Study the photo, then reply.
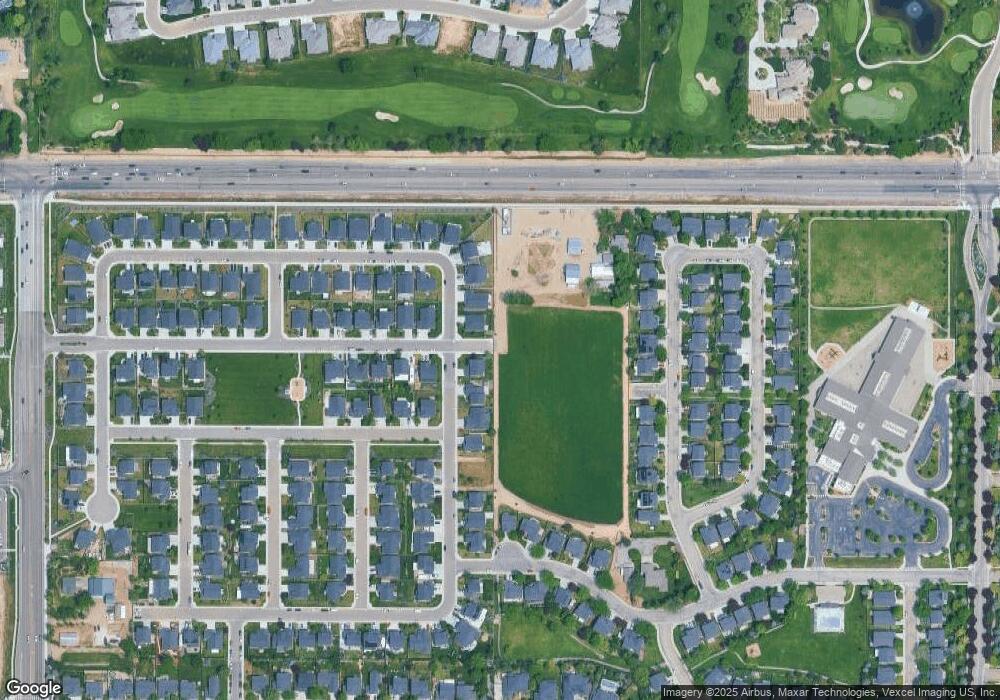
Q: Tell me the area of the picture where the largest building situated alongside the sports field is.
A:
right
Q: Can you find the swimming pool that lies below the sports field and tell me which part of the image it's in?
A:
bottom right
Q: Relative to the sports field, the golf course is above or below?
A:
above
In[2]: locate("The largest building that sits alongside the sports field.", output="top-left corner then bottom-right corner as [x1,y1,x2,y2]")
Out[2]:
[813,315,925,494]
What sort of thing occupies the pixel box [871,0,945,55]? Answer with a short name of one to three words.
pond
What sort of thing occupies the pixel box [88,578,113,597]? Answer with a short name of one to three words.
building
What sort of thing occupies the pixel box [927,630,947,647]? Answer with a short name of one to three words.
house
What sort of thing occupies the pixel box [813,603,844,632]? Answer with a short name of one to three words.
swimming pool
